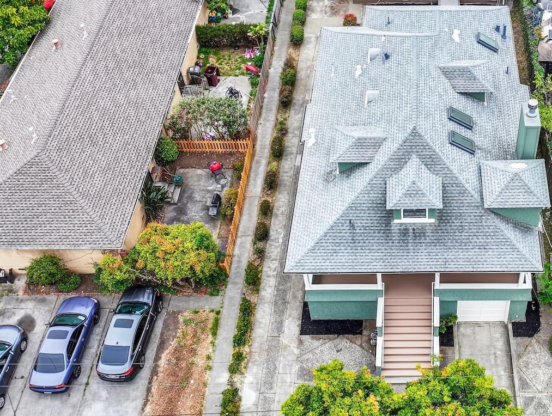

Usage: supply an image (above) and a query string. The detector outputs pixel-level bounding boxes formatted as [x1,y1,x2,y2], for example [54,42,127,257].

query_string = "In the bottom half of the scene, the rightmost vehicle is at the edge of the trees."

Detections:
[93,286,157,375]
